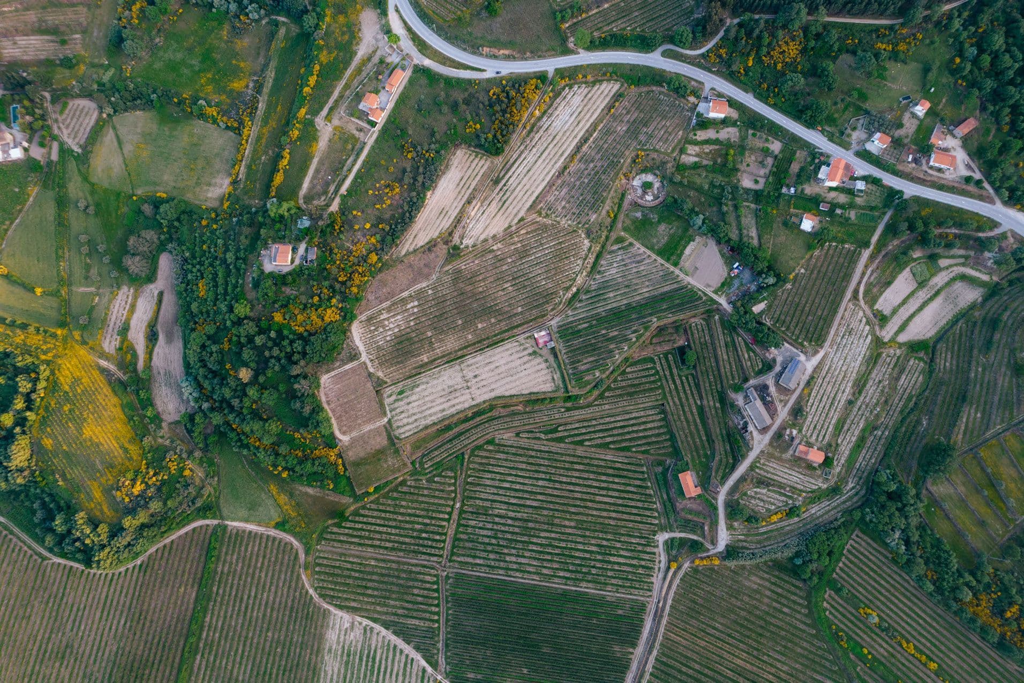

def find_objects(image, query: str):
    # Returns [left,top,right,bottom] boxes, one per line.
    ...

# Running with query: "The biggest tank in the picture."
[626,169,667,210]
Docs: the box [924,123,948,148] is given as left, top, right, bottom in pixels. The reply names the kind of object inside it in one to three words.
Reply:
barn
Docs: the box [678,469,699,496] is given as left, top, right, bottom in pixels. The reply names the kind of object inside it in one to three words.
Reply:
house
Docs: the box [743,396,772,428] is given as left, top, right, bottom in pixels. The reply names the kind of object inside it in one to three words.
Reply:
barn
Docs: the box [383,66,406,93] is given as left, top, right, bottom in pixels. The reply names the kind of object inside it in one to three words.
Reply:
house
